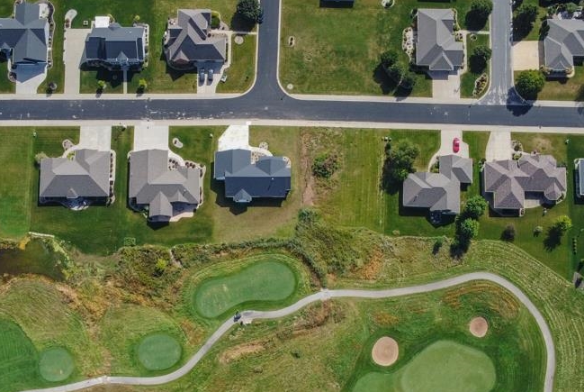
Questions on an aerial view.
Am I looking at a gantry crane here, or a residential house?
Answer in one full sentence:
Visible in the photo is a residential house.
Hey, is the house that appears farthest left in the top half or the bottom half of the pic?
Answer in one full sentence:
The house that appears farthest left is in the top half of the image.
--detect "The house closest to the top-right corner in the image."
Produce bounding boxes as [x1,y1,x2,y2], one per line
[542,19,584,71]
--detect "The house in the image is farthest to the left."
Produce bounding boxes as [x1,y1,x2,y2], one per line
[0,0,48,63]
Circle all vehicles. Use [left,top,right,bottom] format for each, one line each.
[198,68,205,83]
[207,68,214,82]
[233,314,242,321]
[451,137,459,152]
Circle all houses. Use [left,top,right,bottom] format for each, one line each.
[403,153,473,213]
[417,8,465,71]
[484,154,566,208]
[39,148,110,198]
[0,0,48,63]
[542,19,584,71]
[129,149,199,216]
[168,9,226,63]
[214,148,291,202]
[82,23,144,63]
